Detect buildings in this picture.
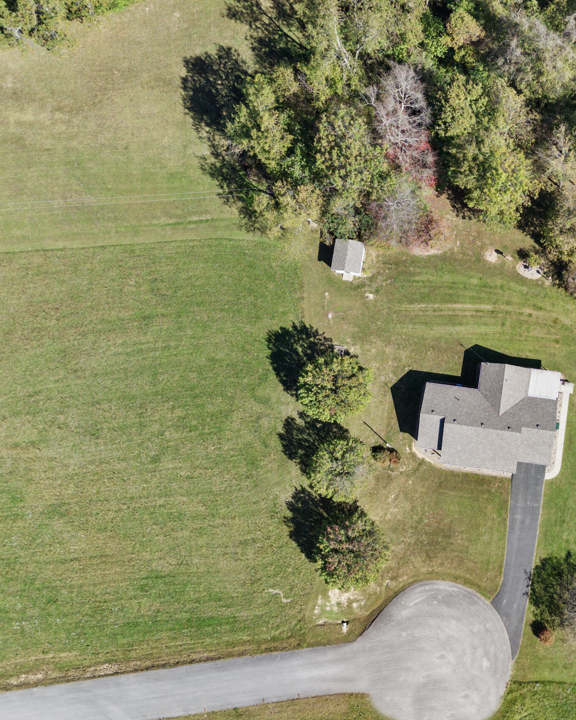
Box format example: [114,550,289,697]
[331,239,366,282]
[416,362,561,473]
